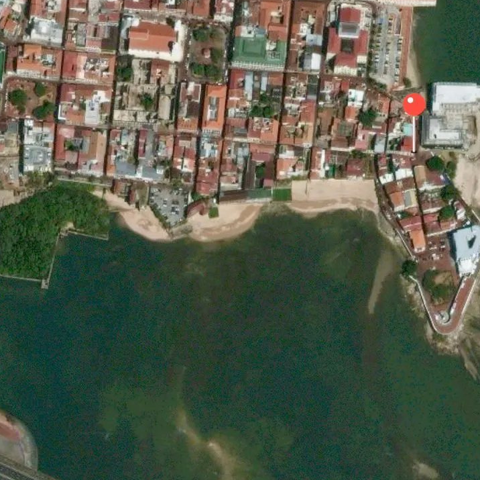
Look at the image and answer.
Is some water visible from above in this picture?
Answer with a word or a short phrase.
Yes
